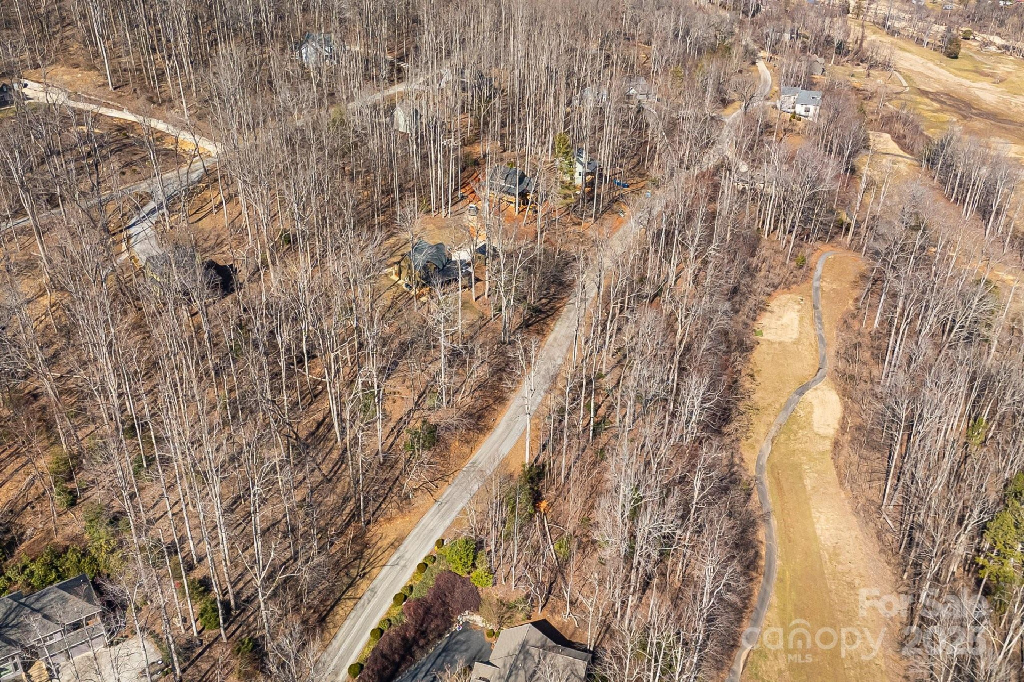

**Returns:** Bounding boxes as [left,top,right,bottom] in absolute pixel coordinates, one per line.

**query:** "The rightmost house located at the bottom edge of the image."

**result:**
[466,622,593,682]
